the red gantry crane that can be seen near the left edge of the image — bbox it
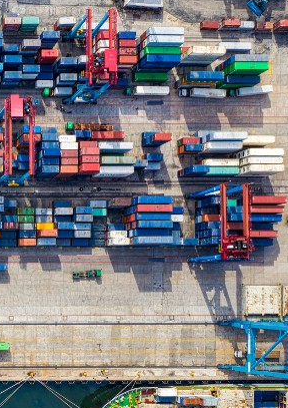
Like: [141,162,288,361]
[0,88,39,184]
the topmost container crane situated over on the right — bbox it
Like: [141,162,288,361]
[184,184,254,269]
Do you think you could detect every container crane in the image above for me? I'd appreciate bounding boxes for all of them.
[184,184,254,269]
[0,88,39,184]
[62,7,119,103]
[220,317,288,383]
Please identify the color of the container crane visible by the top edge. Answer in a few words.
red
